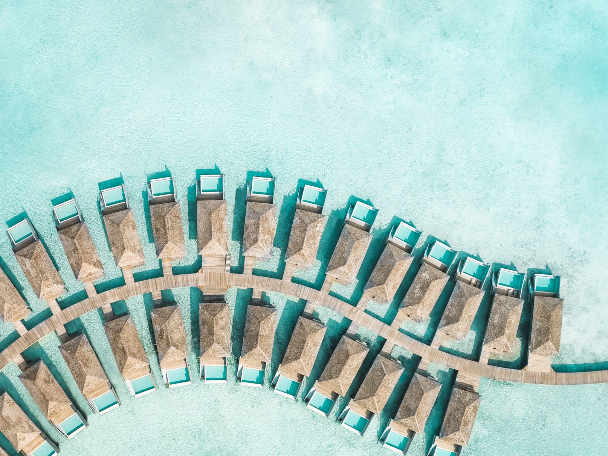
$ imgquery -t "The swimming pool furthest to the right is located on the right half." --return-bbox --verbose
[531,271,557,292]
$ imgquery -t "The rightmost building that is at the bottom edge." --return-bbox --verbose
[427,382,482,456]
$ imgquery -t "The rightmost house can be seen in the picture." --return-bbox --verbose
[526,273,563,357]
